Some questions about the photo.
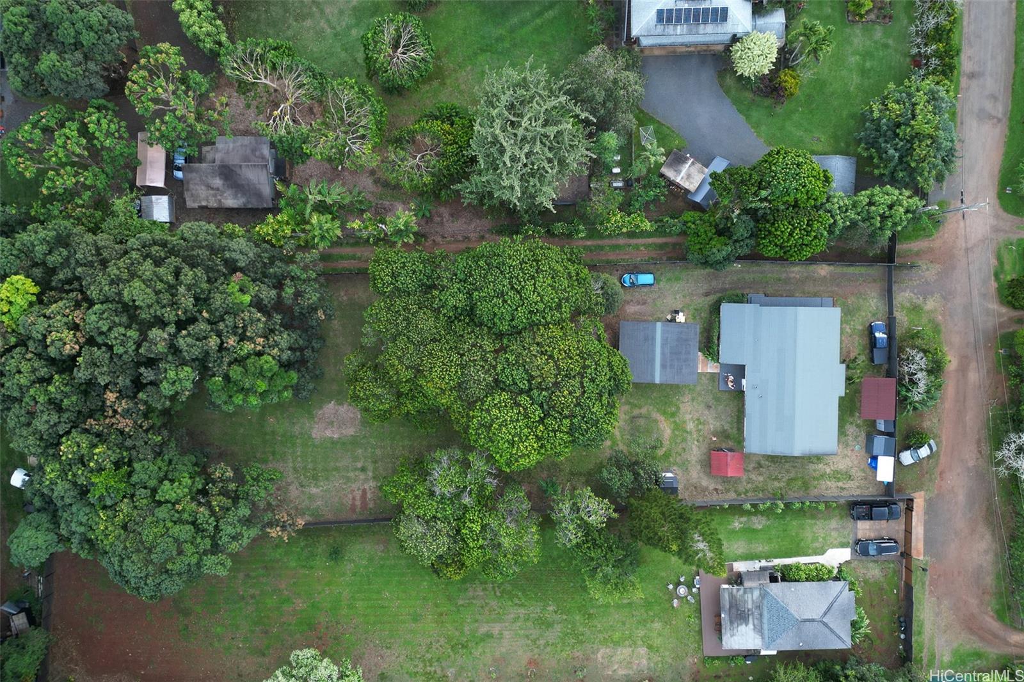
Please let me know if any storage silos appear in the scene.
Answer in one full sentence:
No, there isn't any storage silo down there.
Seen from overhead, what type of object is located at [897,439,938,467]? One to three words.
car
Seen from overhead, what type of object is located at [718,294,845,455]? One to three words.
house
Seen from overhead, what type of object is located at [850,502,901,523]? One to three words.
truck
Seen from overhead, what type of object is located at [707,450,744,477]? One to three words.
shed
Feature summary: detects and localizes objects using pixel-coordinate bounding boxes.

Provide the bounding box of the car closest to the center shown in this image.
[622,271,657,289]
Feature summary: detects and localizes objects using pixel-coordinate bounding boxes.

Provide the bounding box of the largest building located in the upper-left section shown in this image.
[182,137,275,209]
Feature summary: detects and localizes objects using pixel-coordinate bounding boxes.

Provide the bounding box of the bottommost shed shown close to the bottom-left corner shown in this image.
[0,595,38,623]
